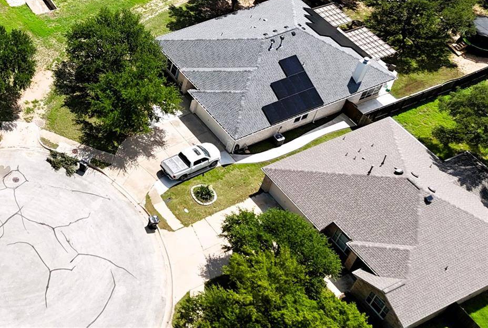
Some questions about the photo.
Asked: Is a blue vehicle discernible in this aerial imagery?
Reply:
No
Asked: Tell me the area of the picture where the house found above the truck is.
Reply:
top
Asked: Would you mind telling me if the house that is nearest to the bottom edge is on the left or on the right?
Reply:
right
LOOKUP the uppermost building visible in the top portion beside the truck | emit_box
[152,0,399,156]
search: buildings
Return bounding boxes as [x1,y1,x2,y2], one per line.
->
[152,0,399,156]
[258,116,488,328]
